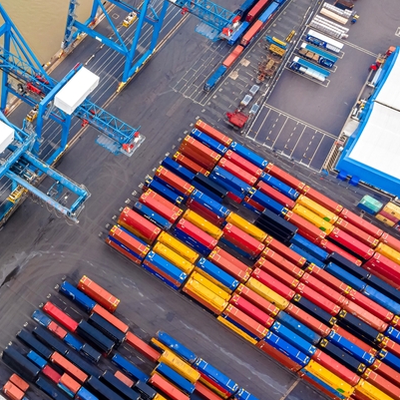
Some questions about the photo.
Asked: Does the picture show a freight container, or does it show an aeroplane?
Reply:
freight container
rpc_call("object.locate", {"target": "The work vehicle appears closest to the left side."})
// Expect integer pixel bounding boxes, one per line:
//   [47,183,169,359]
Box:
[220,104,245,130]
